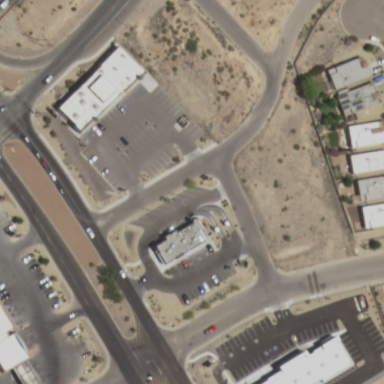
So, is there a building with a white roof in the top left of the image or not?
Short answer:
Yes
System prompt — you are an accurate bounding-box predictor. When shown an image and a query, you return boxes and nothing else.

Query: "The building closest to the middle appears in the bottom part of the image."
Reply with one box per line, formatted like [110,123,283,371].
[156,218,208,268]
